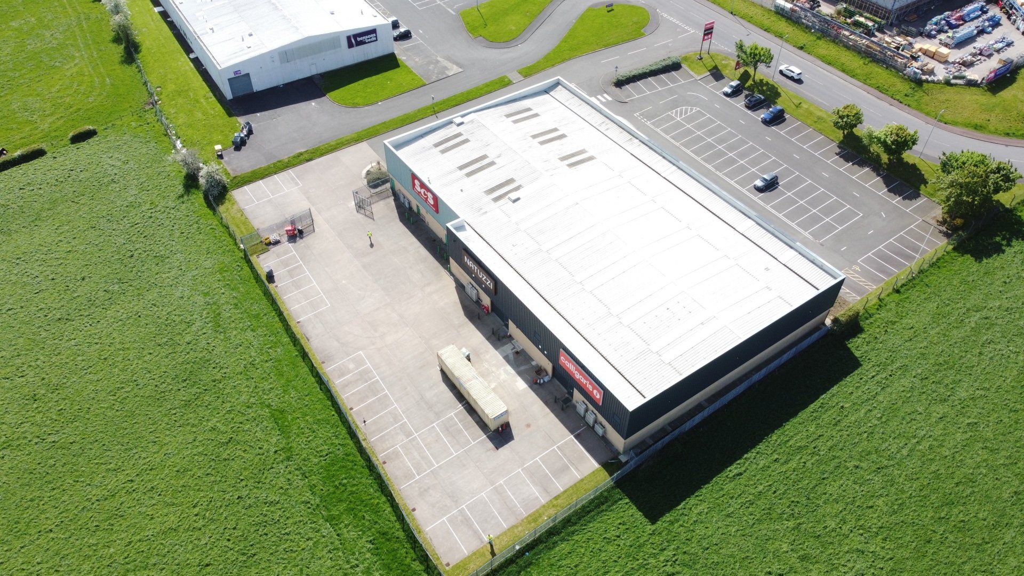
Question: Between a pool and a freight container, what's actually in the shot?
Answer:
freight container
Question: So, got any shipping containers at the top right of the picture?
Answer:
No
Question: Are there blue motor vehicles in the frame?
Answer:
Yes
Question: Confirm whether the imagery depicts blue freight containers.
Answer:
No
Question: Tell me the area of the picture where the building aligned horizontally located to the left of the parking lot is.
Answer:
top left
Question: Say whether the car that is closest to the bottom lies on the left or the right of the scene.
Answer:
right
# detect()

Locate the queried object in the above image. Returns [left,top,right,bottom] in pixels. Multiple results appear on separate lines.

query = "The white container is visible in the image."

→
[437,344,509,431]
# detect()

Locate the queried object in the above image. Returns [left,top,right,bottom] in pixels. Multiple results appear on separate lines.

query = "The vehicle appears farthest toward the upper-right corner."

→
[778,67,804,82]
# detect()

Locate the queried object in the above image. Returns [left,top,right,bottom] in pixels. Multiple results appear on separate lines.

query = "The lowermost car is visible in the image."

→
[751,170,779,191]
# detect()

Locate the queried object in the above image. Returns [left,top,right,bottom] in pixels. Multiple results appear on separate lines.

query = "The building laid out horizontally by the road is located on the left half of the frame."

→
[151,0,395,99]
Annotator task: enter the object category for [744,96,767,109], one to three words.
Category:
vehicle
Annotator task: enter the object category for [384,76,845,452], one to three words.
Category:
warehouse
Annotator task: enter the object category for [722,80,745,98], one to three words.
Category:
car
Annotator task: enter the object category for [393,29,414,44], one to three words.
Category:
car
